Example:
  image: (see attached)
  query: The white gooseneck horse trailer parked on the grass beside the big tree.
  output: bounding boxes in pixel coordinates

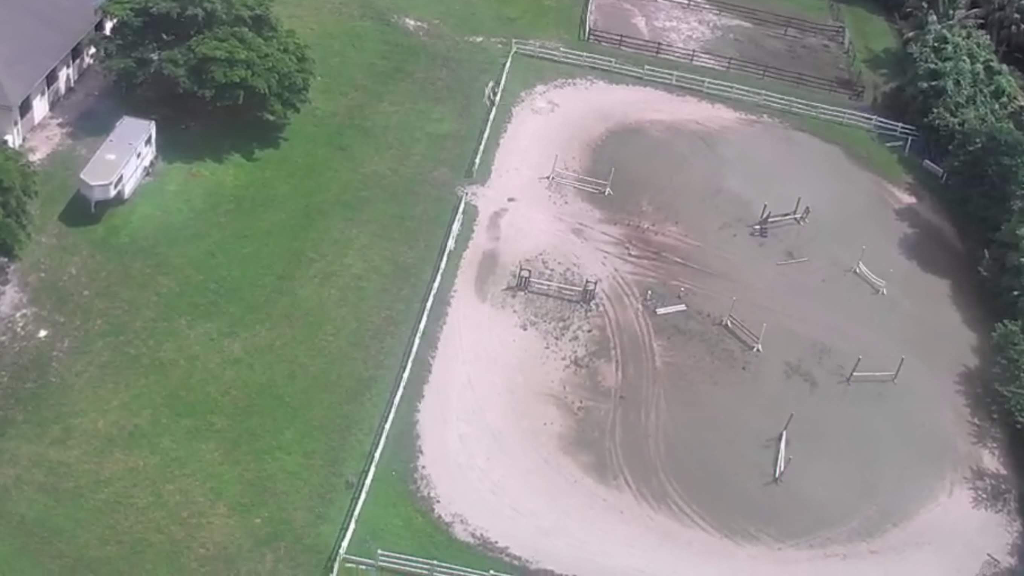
[83,116,156,214]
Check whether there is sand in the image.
Yes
